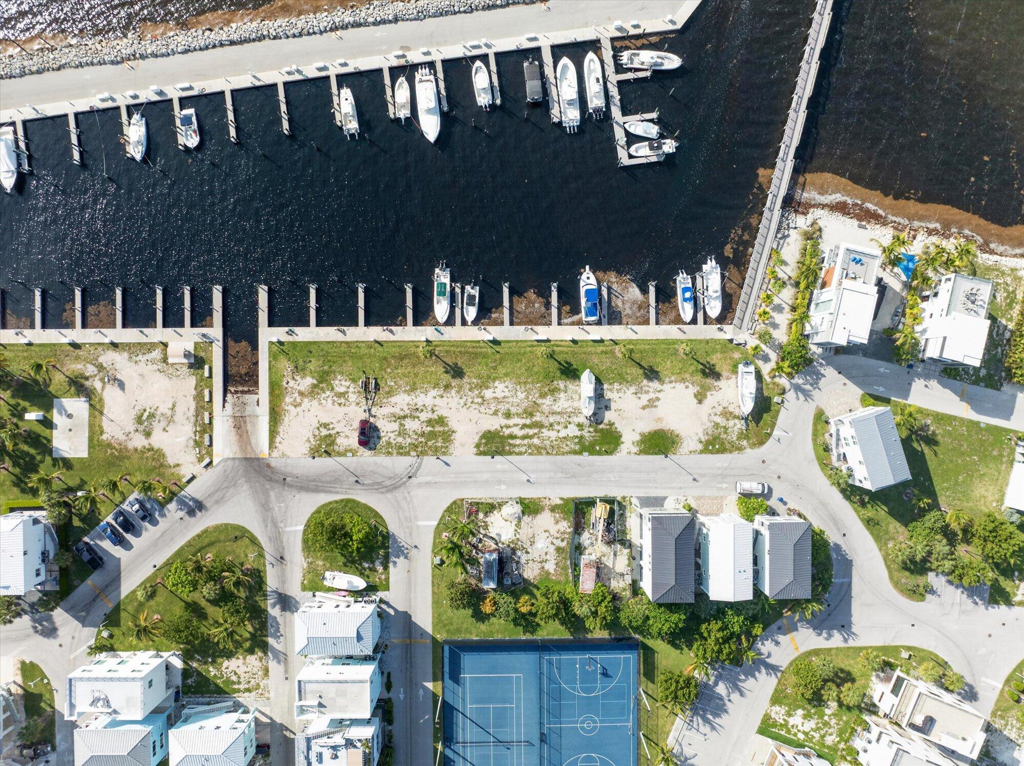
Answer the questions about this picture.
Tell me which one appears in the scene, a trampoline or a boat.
boat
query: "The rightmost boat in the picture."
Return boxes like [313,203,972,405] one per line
[890,301,905,326]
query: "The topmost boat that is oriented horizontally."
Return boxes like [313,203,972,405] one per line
[615,46,682,71]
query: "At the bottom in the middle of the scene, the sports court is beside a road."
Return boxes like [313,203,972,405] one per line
[442,640,639,766]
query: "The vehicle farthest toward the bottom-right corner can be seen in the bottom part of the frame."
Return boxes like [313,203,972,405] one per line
[736,482,769,497]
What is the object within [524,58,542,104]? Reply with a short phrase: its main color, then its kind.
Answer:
gray boat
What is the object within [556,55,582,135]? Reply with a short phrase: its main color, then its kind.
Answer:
white boat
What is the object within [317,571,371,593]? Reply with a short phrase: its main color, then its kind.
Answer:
white boat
